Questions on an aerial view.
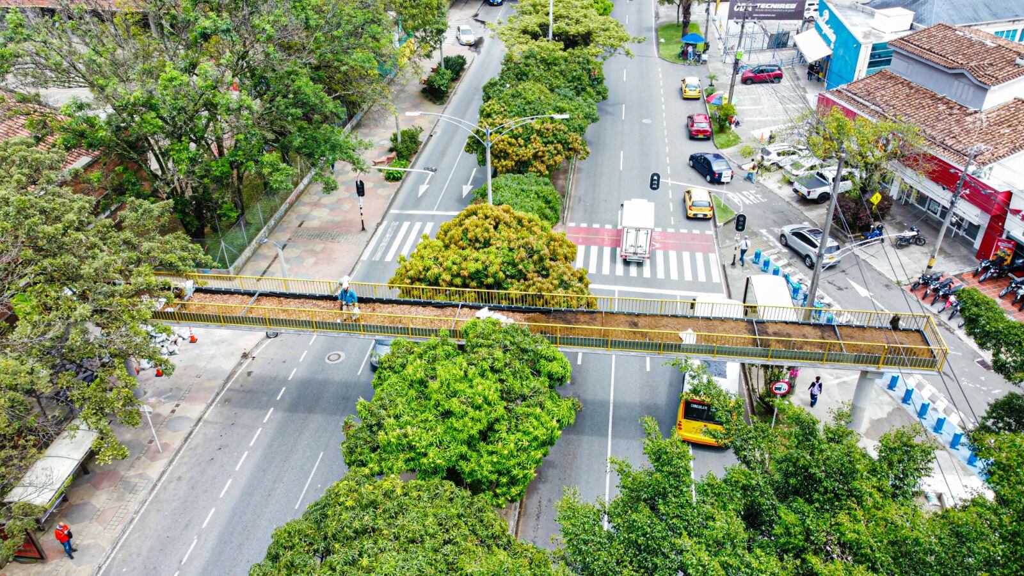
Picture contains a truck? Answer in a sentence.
Yes, the picture does show a truck.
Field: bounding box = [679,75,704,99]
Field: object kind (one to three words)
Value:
car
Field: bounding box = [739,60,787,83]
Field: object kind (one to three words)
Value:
car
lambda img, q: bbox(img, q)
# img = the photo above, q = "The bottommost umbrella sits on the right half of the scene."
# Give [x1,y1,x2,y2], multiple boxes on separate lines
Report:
[710,84,741,106]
